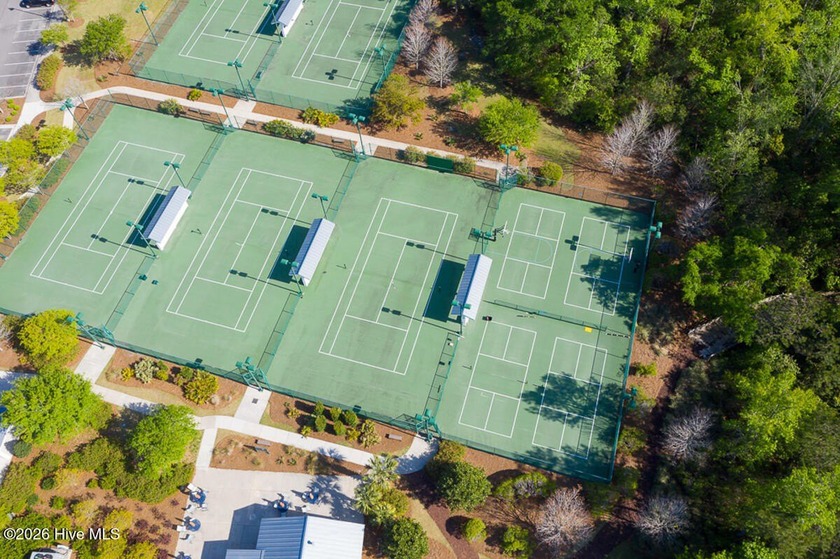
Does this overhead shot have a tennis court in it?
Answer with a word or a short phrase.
Yes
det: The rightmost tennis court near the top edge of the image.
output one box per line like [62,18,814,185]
[248,0,418,121]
